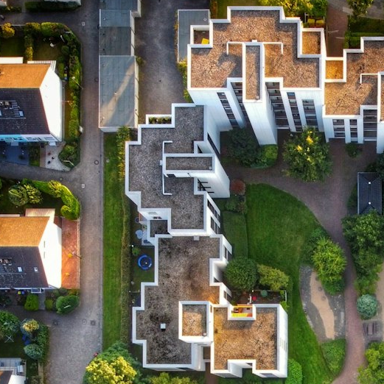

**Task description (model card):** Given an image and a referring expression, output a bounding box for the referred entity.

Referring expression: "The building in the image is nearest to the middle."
[125,104,230,245]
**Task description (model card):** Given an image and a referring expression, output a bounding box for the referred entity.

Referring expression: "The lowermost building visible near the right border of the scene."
[357,172,382,215]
